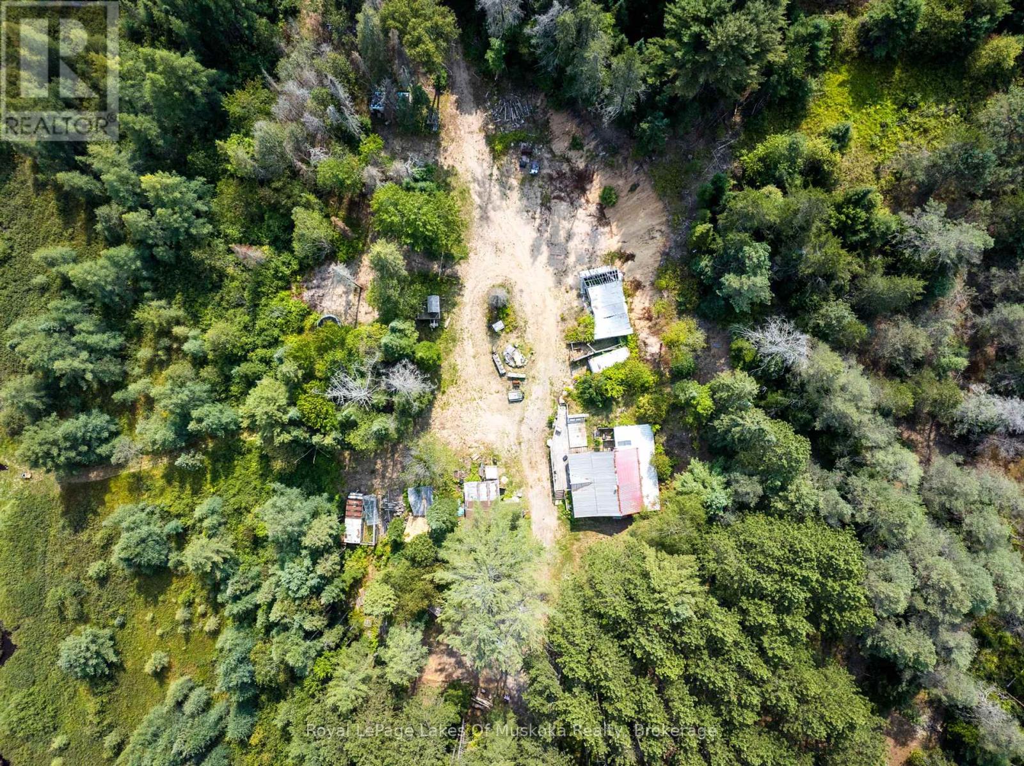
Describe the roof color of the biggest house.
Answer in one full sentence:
The color of the roof on the biggest house is white.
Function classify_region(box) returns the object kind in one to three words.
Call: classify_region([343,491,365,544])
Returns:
shed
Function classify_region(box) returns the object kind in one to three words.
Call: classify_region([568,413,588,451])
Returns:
shed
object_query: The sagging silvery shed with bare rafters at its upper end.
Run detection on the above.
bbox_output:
[579,262,633,341]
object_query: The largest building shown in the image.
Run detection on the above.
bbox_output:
[568,425,658,518]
